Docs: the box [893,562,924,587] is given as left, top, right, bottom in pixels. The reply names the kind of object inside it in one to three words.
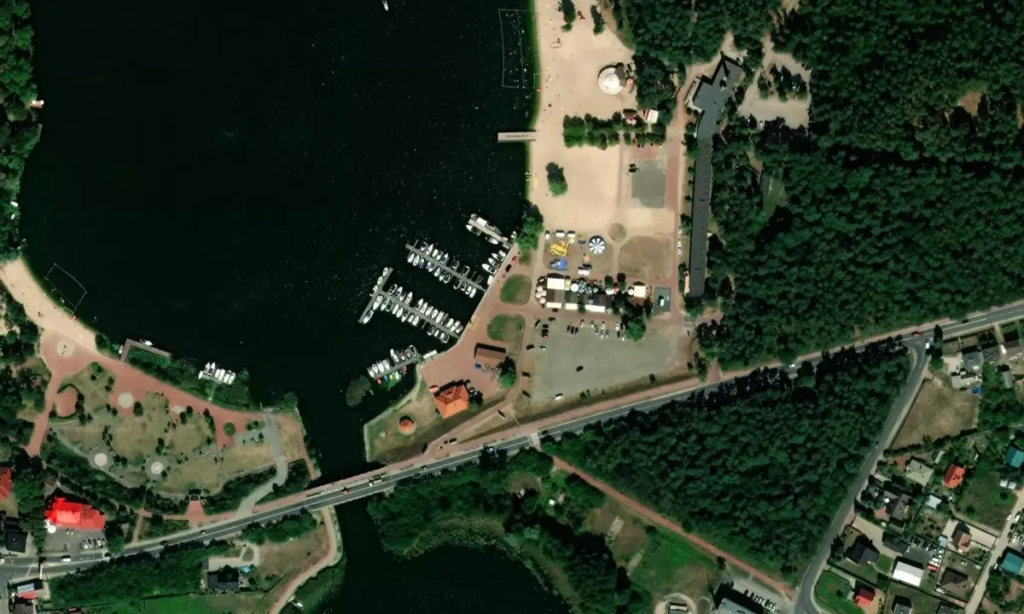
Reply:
building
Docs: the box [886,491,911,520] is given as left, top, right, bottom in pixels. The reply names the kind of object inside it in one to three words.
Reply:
house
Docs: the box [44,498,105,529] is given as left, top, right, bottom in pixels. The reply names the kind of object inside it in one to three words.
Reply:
building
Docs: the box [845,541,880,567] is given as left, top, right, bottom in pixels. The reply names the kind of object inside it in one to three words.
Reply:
house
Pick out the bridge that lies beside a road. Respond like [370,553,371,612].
[311,467,384,513]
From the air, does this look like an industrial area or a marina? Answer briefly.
marina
